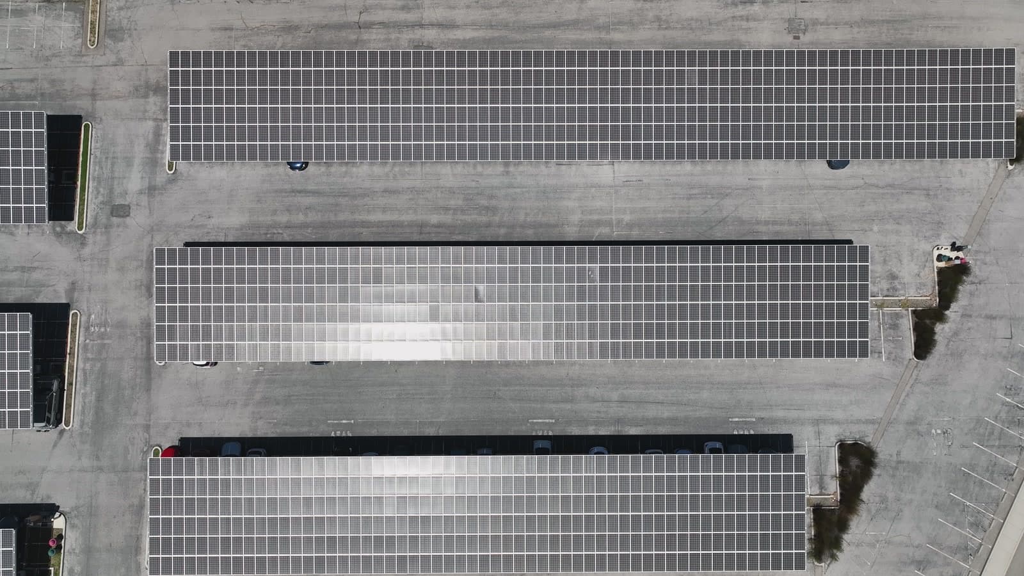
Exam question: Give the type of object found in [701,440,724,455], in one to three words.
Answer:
car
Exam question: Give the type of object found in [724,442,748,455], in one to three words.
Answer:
vehicle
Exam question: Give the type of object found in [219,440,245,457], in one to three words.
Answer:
car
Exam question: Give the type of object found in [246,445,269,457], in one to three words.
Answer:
vehicle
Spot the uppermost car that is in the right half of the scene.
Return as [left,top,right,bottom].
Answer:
[826,159,850,171]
